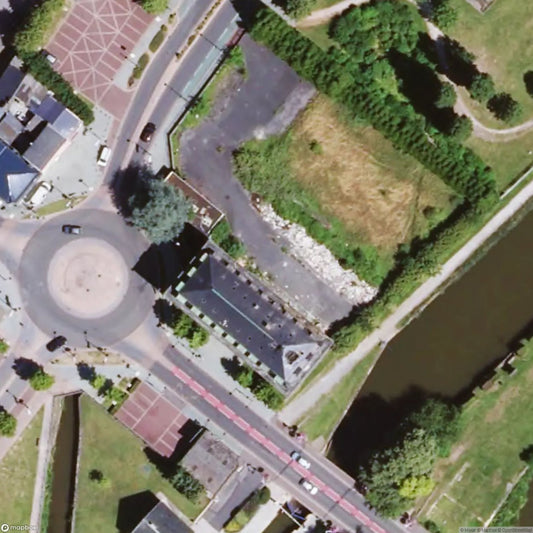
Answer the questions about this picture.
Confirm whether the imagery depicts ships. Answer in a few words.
No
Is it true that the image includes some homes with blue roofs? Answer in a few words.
Yes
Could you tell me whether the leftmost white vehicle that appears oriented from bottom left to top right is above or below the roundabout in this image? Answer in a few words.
above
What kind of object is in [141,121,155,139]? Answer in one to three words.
car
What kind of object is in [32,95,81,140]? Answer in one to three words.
house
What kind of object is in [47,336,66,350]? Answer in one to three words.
car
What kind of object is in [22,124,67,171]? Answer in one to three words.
house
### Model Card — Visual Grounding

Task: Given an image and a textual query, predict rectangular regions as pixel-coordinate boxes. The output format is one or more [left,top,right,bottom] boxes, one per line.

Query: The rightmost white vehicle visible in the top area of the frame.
[97,146,111,166]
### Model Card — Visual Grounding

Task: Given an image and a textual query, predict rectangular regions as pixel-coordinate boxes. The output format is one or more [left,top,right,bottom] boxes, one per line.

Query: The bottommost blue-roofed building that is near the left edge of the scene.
[0,138,39,204]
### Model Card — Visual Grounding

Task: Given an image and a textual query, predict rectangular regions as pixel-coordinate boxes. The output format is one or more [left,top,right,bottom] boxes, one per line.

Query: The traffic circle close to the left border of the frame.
[19,210,156,347]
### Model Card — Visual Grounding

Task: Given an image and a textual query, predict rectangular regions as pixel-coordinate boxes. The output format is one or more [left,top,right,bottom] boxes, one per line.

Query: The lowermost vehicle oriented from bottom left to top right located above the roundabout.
[29,183,48,206]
